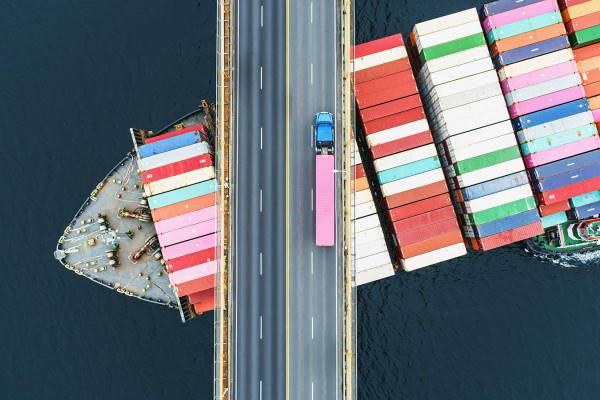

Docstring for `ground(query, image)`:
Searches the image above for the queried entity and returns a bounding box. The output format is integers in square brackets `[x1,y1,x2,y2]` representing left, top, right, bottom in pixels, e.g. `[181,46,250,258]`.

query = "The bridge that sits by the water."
[215,0,356,400]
